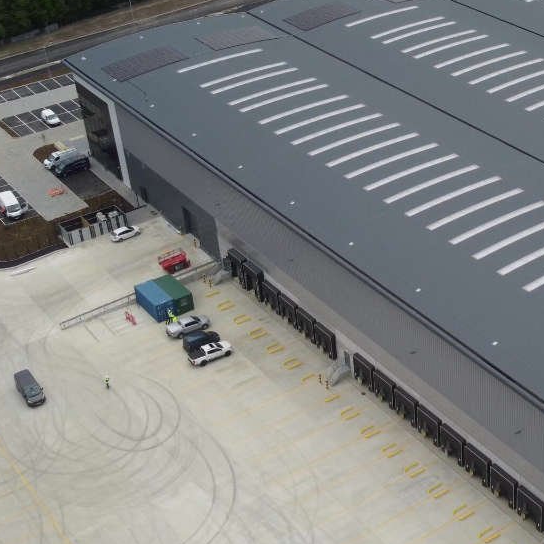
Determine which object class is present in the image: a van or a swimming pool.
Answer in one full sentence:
This aerial view contains a van.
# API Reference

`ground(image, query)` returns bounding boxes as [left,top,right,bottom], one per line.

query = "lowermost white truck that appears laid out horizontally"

[187,343,234,367]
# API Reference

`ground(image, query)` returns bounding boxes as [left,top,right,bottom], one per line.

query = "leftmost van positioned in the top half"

[0,190,30,220]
